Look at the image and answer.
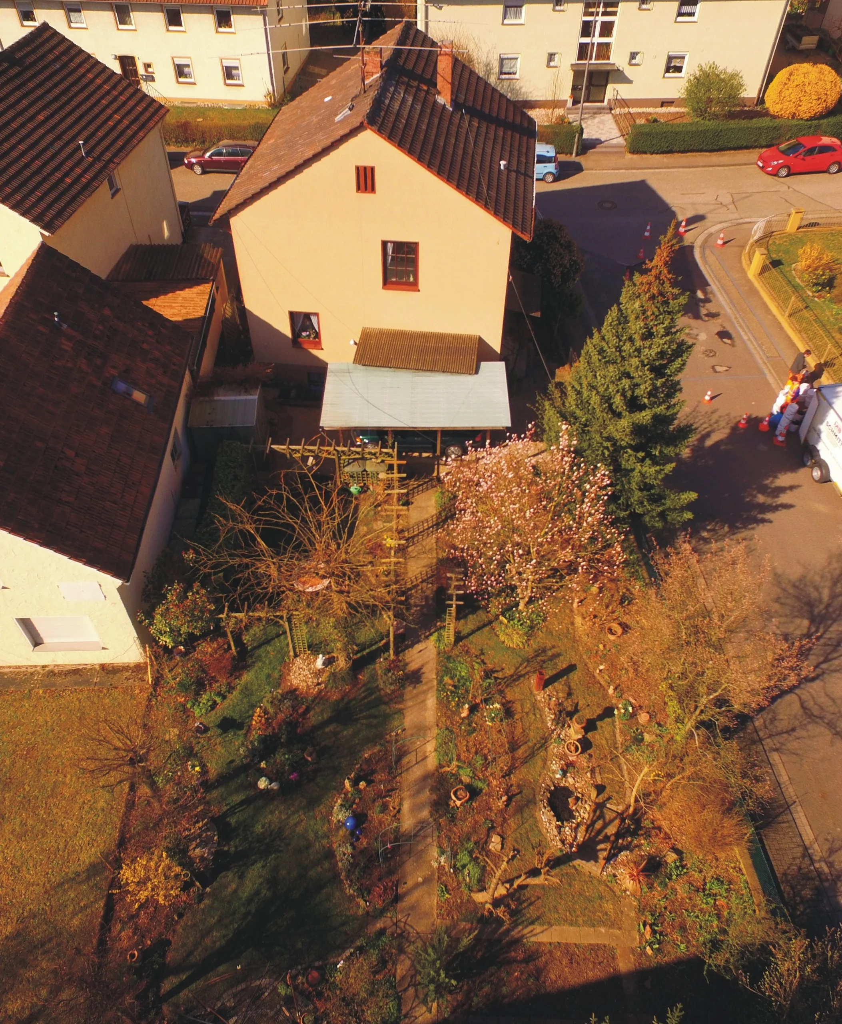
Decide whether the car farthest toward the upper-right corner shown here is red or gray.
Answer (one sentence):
The color of the car farthest toward the upper-right corner is red.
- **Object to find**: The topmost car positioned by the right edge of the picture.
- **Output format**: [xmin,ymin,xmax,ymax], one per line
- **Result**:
[755,131,842,176]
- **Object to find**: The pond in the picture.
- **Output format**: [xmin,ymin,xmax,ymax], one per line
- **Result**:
[536,759,593,857]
